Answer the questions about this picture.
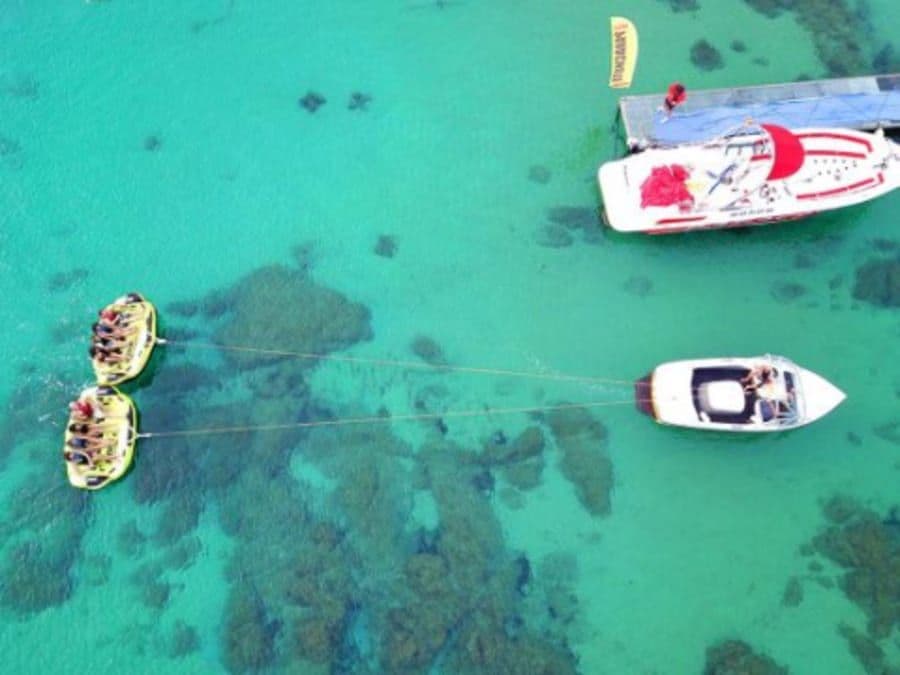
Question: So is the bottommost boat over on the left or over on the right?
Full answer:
The bottommost boat is on the right side of the image.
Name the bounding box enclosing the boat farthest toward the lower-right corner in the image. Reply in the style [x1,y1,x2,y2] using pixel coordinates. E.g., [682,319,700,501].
[635,358,849,433]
